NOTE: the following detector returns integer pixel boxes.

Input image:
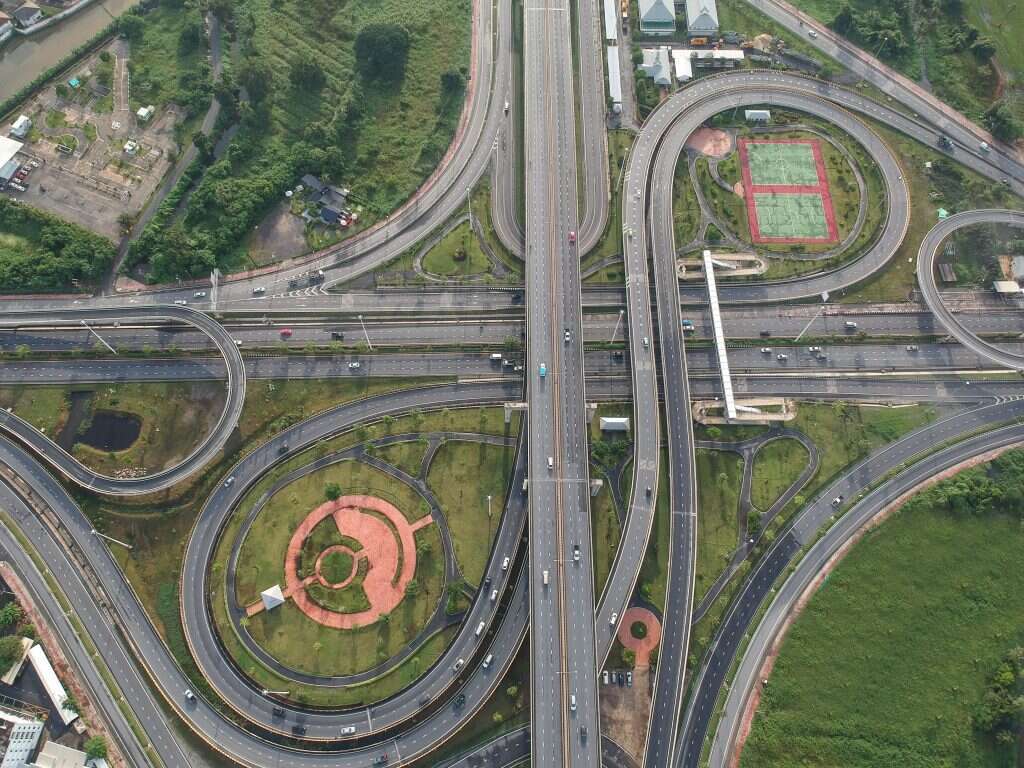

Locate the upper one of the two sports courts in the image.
[738,139,830,188]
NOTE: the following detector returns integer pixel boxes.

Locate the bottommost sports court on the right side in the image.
[745,188,839,243]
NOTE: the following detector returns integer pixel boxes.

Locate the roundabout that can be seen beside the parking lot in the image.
[617,608,661,668]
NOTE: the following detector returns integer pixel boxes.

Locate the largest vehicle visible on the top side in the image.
[288,268,323,289]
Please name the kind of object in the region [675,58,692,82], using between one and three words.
shed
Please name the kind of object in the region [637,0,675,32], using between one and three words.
building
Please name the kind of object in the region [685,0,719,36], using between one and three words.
building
